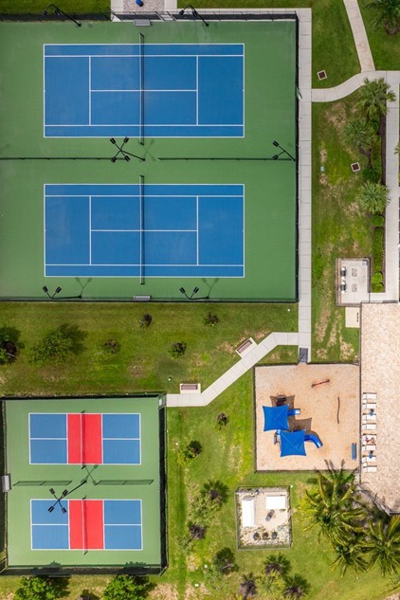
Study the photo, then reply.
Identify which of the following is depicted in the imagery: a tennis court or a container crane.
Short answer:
tennis court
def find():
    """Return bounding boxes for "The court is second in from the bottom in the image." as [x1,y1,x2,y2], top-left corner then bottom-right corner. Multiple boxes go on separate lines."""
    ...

[6,397,161,481]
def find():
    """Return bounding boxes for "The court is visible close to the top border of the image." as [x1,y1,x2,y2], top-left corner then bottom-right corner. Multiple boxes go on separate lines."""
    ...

[0,20,298,159]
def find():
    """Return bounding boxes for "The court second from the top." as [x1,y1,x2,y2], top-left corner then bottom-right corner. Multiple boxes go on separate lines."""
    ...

[0,159,298,301]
